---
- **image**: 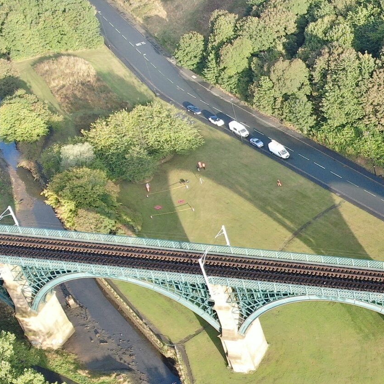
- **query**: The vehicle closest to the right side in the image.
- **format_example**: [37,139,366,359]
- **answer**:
[267,138,288,155]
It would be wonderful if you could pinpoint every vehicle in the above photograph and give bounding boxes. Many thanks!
[208,114,224,125]
[248,136,264,146]
[186,103,201,113]
[229,118,248,134]
[267,138,288,155]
